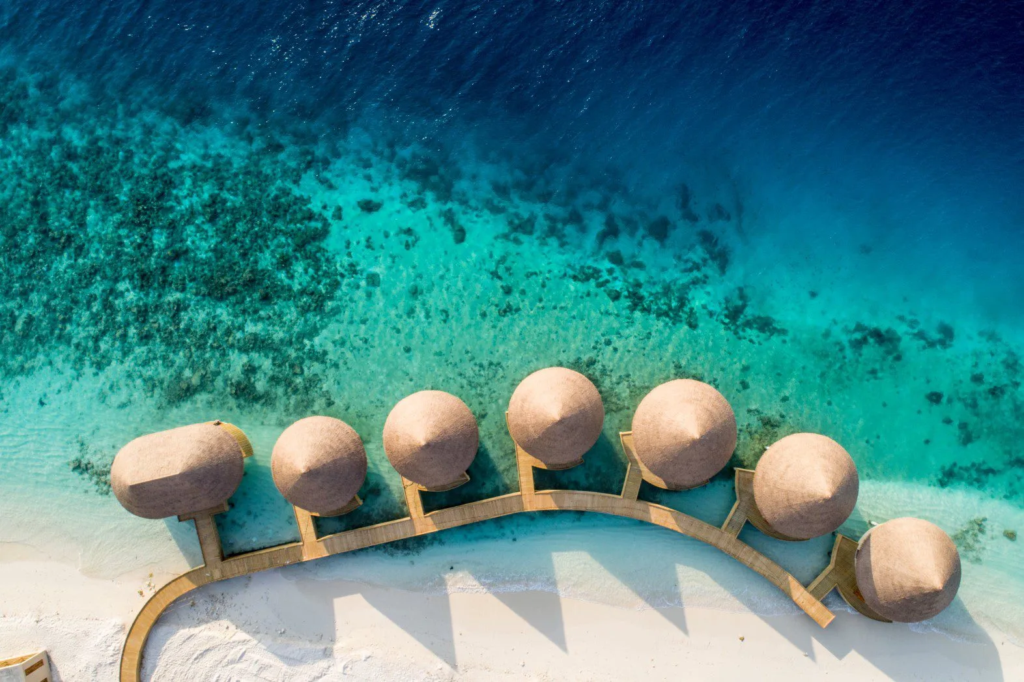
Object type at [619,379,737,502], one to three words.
building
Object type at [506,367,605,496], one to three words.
building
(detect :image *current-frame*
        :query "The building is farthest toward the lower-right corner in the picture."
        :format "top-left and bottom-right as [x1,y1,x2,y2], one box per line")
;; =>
[805,516,960,623]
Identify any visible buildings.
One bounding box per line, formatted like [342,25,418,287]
[383,390,479,521]
[271,416,368,545]
[506,367,605,496]
[0,651,49,682]
[721,432,858,542]
[111,420,255,567]
[619,379,737,502]
[805,516,960,623]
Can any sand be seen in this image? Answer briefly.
Yes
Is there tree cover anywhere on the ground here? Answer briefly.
No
